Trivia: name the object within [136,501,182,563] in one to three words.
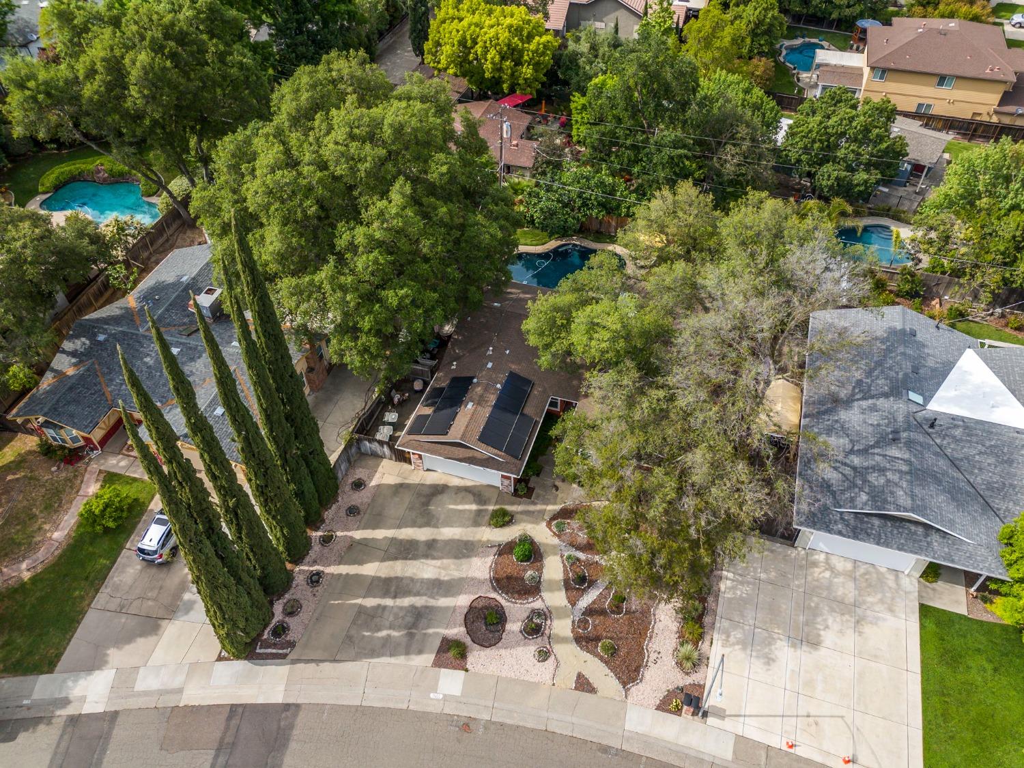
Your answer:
car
